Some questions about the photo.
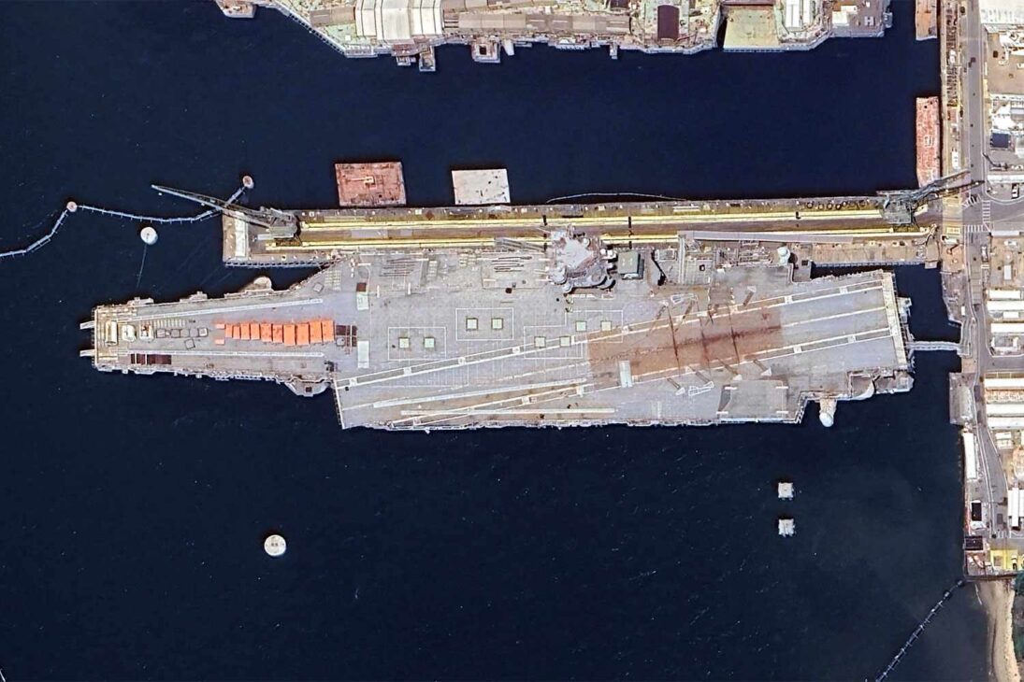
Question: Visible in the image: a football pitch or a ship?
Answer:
ship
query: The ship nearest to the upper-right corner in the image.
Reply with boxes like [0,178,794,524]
[915,0,939,41]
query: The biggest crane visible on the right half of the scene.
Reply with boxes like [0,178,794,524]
[883,172,970,240]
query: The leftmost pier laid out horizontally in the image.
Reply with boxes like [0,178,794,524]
[78,205,223,222]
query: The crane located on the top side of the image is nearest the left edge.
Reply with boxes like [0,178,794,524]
[151,185,303,253]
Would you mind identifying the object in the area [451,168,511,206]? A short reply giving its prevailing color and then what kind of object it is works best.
white ship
